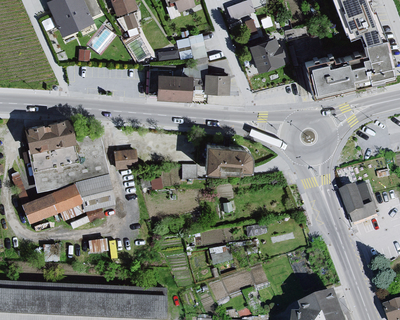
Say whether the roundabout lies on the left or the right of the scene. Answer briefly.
right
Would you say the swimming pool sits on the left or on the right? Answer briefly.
left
